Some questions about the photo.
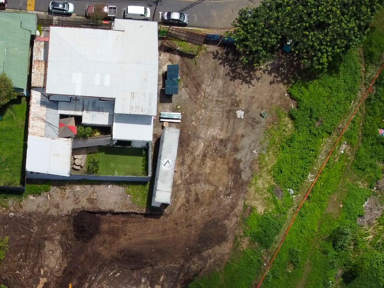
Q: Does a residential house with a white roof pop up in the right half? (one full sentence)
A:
No, there is no residential house with a white roof in the right half.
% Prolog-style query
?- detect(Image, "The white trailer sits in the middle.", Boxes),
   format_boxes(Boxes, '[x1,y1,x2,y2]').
[152,128,179,206]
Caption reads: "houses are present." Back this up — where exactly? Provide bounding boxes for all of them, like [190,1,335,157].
[26,19,158,176]
[0,12,37,97]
